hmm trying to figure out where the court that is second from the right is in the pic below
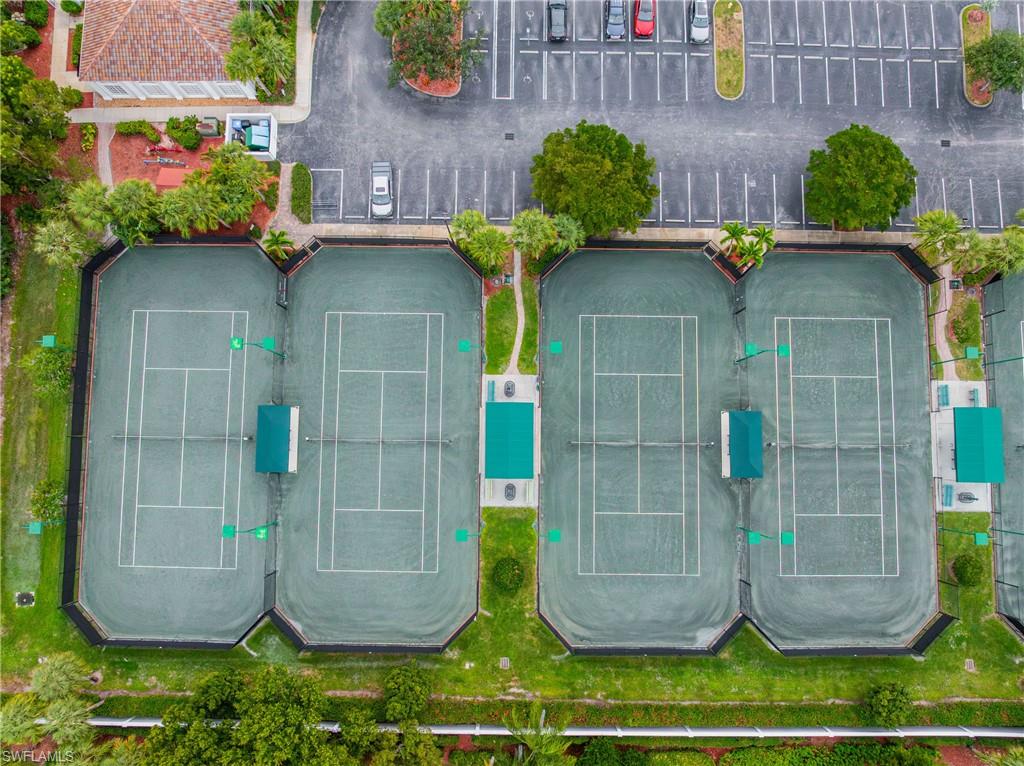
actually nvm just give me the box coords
[736,250,941,651]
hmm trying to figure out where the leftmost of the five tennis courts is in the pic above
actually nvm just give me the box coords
[72,243,287,643]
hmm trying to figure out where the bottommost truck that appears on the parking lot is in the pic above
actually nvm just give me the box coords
[369,162,394,220]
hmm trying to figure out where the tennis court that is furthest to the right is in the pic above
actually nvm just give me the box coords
[980,253,1024,646]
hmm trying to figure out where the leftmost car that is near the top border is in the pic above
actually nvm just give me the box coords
[548,0,570,42]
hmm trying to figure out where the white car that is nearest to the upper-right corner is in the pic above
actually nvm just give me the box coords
[688,0,712,44]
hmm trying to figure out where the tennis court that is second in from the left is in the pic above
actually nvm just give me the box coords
[275,245,484,645]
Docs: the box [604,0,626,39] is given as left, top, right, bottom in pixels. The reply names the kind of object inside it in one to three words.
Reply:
car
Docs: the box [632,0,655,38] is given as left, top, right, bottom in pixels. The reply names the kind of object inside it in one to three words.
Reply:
car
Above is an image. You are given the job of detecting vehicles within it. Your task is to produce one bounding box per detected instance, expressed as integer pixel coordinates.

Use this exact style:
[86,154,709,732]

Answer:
[604,0,626,39]
[369,162,394,220]
[632,0,655,38]
[688,0,712,44]
[548,0,570,42]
